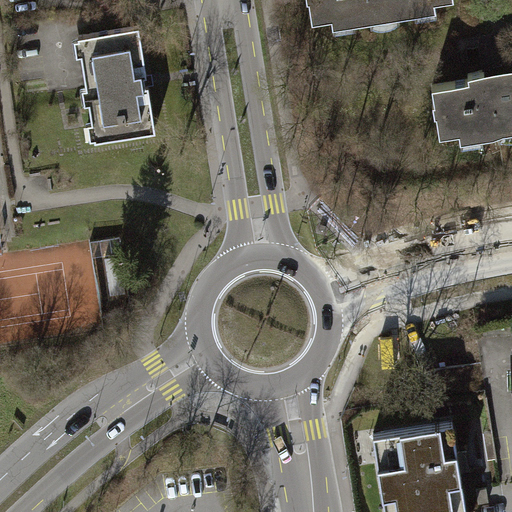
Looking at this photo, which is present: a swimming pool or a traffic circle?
traffic circle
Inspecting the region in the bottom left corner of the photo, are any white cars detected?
Yes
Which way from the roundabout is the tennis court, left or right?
left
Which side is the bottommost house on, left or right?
right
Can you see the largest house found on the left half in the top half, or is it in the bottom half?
top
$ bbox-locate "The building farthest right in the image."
[430,65,512,154]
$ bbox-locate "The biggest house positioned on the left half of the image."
[74,27,156,146]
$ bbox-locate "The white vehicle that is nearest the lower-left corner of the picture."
[105,420,126,439]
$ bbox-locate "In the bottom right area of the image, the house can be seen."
[372,420,465,512]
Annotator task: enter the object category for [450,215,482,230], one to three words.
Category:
work vehicle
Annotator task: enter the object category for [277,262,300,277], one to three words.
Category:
car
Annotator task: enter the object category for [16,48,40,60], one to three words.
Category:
vehicle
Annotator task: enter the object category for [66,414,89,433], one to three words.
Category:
car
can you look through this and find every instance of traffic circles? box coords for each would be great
[185,241,343,400]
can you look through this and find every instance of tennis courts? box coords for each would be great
[0,240,102,344]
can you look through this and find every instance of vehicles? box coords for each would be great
[406,324,426,361]
[482,504,504,512]
[190,474,202,498]
[164,478,176,499]
[272,436,292,464]
[204,473,214,488]
[105,420,126,439]
[178,477,188,496]
[16,48,40,60]
[310,380,320,404]
[14,1,36,12]
[450,215,482,230]
[240,0,250,14]
[18,28,39,39]
[322,306,332,330]
[216,470,226,491]
[277,262,300,277]
[428,230,438,250]
[264,166,276,190]
[66,414,89,433]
